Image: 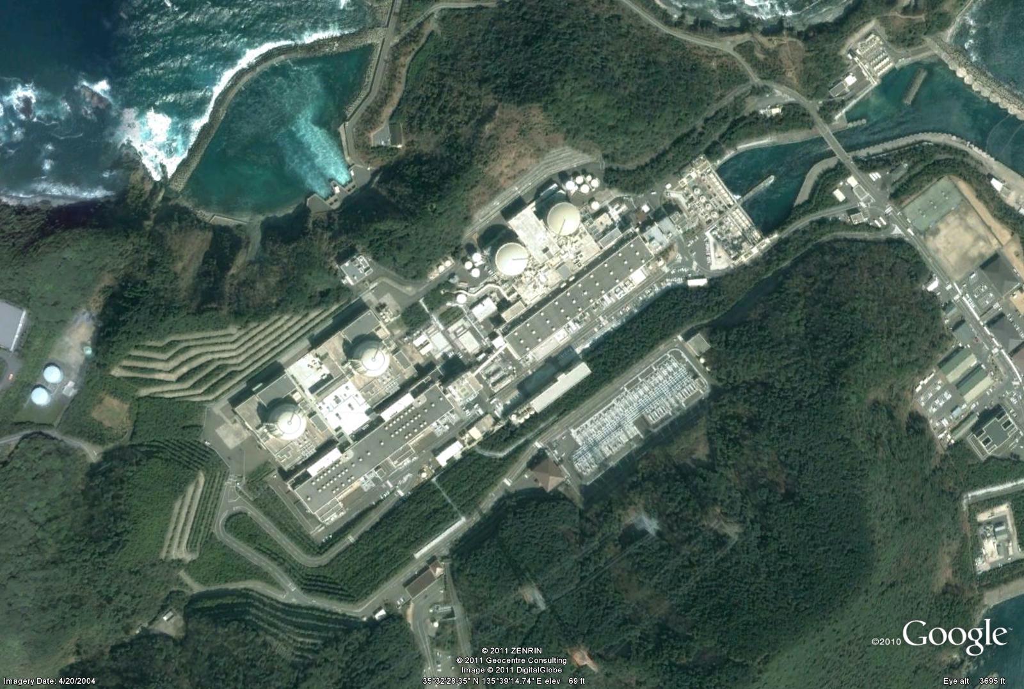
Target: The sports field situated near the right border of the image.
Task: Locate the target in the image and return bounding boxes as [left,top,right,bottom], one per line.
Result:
[925,200,1000,280]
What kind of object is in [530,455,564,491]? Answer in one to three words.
house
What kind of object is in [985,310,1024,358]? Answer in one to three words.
building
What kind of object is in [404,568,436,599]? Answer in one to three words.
building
